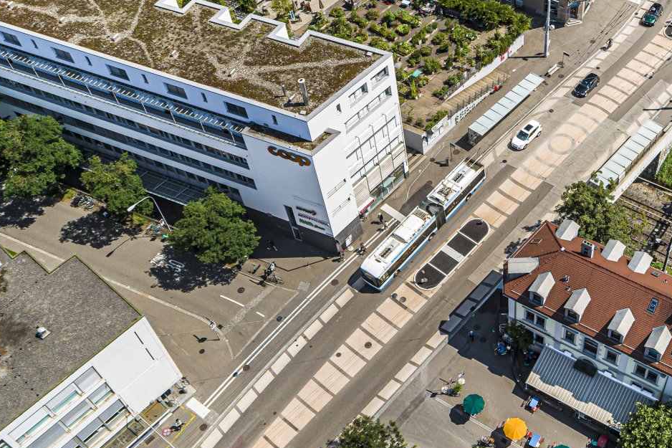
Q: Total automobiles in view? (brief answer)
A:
3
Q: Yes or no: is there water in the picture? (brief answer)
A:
No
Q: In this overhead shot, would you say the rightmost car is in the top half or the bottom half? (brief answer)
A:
top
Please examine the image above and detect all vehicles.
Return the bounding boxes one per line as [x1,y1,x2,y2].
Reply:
[572,72,603,97]
[642,2,664,24]
[510,118,543,148]
[362,120,503,292]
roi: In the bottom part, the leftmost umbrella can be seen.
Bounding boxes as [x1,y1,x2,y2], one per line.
[460,393,487,420]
